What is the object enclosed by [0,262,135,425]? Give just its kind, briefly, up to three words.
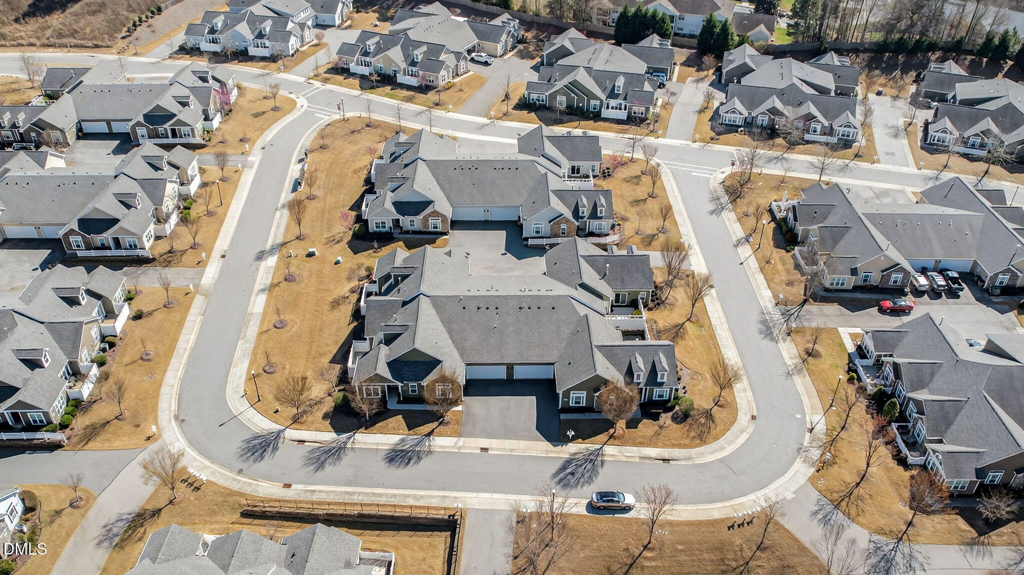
house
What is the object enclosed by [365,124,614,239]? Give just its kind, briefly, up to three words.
house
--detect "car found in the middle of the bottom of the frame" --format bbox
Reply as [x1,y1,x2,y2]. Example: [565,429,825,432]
[590,489,637,512]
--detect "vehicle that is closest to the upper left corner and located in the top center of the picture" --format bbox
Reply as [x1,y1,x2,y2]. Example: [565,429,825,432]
[470,52,496,64]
